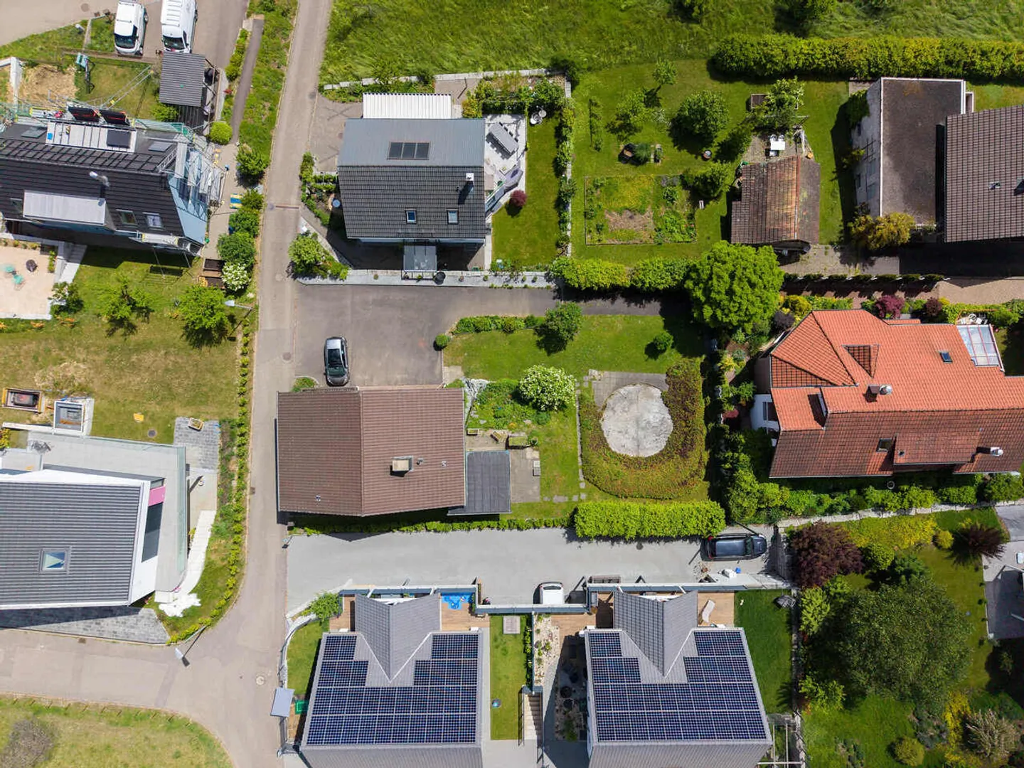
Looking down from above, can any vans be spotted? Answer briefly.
Yes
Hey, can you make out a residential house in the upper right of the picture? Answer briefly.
Yes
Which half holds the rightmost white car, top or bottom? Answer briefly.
bottom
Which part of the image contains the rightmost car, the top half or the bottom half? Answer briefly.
bottom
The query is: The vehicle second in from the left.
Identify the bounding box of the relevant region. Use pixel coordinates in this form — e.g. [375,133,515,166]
[161,0,201,55]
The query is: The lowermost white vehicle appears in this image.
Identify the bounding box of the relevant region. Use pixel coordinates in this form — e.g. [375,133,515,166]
[539,581,562,602]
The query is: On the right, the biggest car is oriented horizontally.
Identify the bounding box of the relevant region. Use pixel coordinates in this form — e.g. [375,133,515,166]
[701,533,767,564]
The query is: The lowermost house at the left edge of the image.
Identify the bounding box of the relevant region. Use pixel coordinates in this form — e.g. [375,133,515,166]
[0,465,165,614]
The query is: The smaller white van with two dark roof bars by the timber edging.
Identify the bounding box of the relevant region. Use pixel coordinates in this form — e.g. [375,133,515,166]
[115,0,152,58]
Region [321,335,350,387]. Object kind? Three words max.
car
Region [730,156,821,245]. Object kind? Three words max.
shed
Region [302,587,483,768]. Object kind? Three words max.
house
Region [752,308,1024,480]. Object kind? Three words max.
house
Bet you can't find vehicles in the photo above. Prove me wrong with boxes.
[539,581,562,602]
[115,0,152,58]
[161,0,201,55]
[701,533,767,564]
[321,335,350,387]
